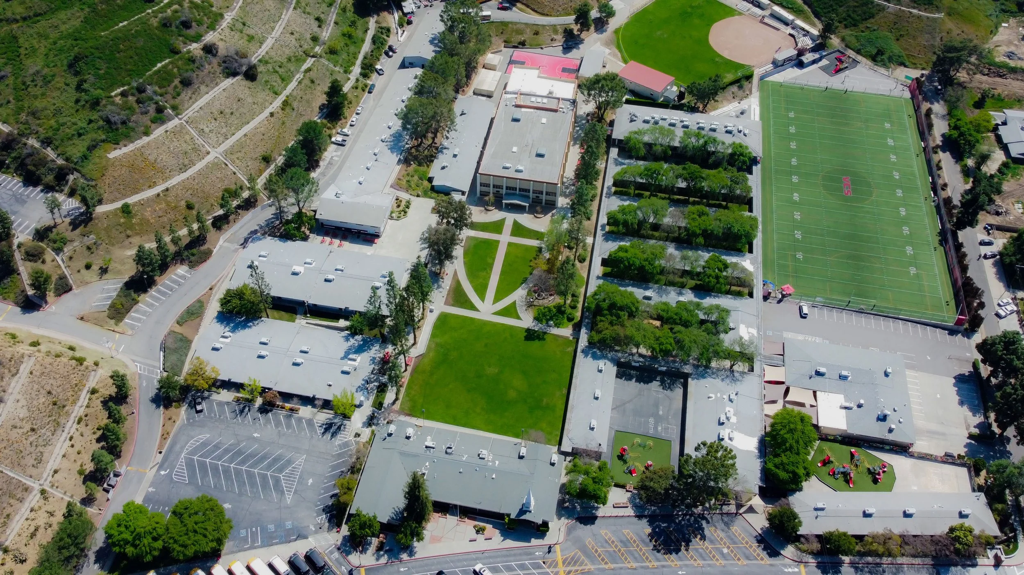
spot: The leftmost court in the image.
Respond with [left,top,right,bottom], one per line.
[506,50,580,79]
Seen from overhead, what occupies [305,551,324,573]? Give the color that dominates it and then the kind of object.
black vehicle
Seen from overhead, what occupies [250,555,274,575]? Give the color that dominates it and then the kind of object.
white bus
